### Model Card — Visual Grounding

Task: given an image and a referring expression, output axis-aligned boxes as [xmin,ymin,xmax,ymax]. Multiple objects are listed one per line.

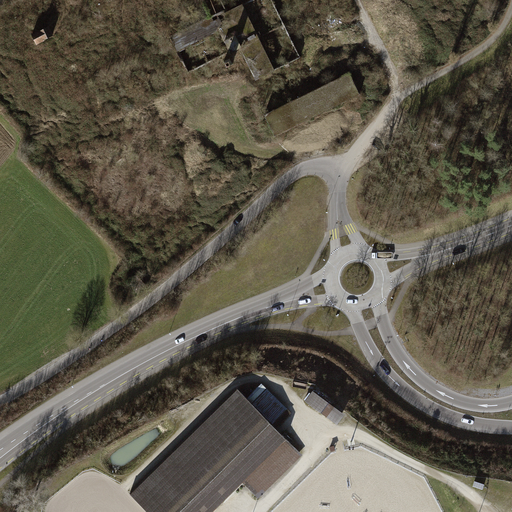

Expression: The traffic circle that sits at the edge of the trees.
[310,228,411,324]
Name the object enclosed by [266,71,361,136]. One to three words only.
building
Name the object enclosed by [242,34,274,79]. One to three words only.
building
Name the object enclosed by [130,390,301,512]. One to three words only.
barn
